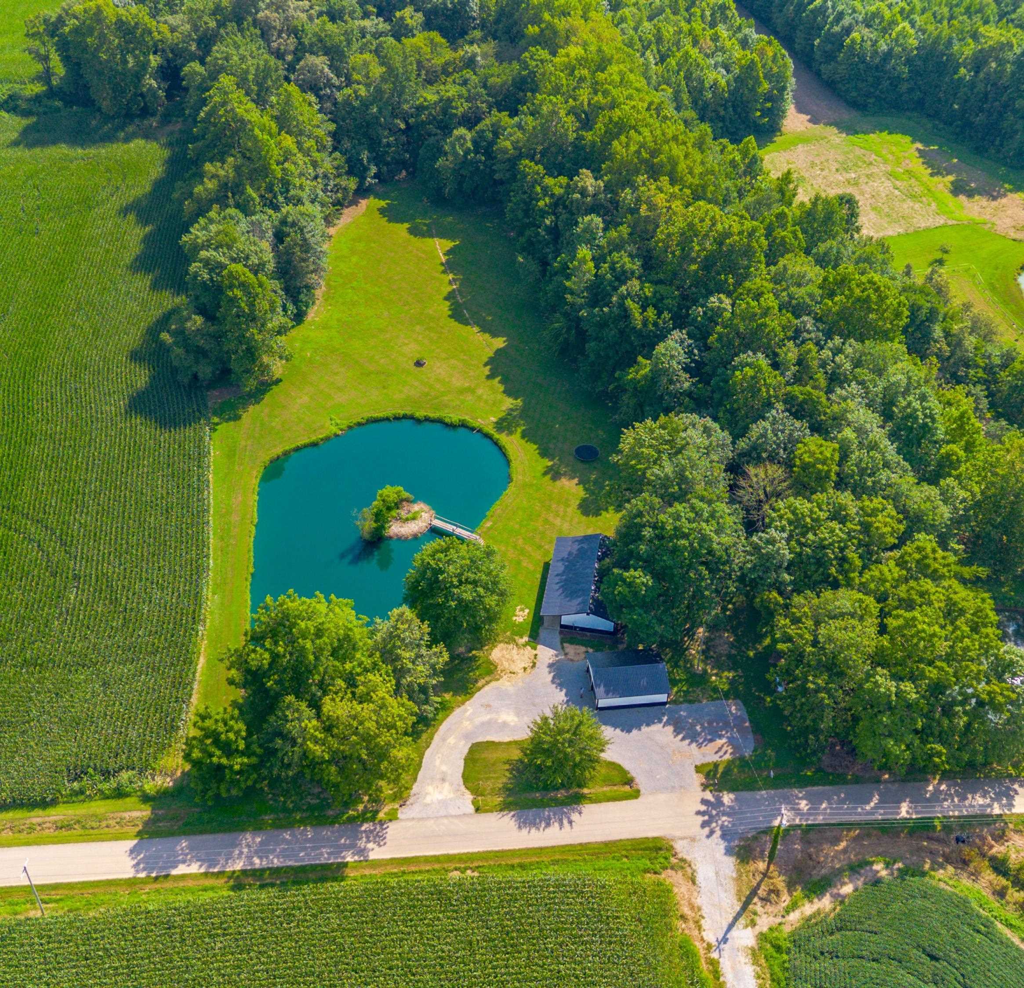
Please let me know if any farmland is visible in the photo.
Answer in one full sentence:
Yes, the picture does contain farmland.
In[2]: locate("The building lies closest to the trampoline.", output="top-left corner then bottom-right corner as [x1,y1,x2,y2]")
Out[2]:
[539,531,625,636]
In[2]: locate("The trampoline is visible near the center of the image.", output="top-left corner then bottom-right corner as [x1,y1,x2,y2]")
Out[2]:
[573,444,601,463]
